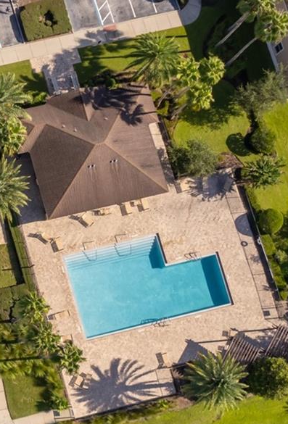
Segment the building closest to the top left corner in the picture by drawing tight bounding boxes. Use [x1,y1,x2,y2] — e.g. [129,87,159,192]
[17,83,170,220]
